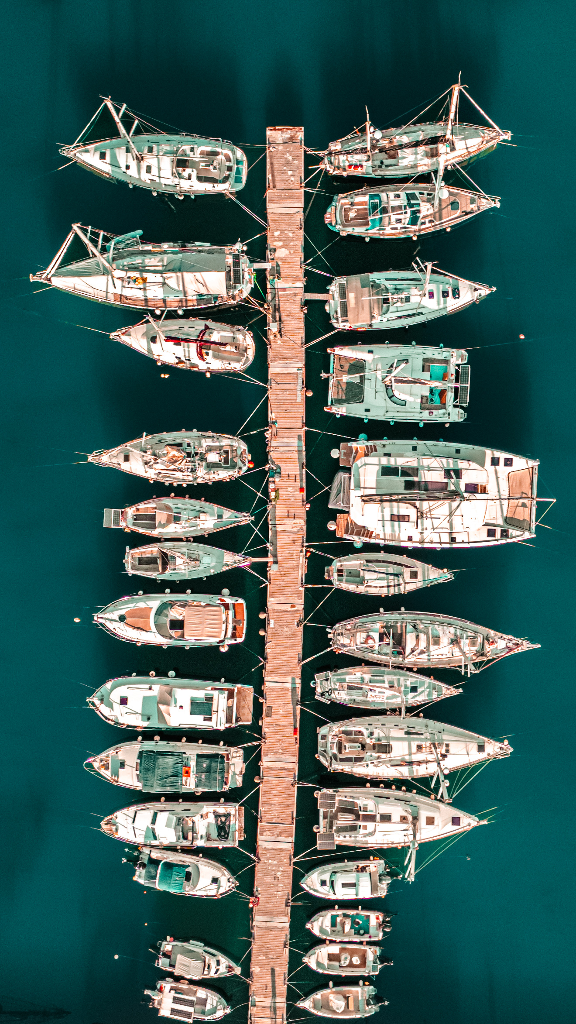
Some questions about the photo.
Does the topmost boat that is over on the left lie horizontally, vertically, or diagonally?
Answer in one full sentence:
From this overhead view, the topmost boat that is over on the left appears to run horizontally.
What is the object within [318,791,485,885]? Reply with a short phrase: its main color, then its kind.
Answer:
white boat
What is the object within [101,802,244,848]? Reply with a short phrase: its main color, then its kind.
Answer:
white boat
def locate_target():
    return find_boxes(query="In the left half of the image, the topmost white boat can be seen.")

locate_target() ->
[54,96,248,191]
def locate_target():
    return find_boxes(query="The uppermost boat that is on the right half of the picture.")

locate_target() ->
[307,75,517,182]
